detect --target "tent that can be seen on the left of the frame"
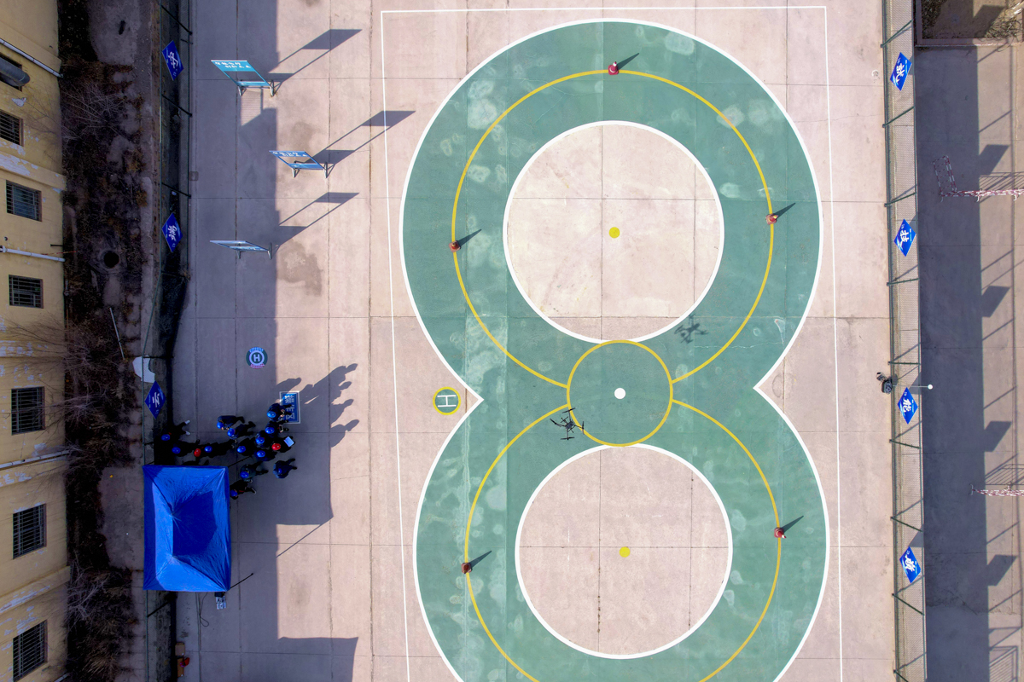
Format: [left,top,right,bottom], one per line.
[142,456,252,593]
